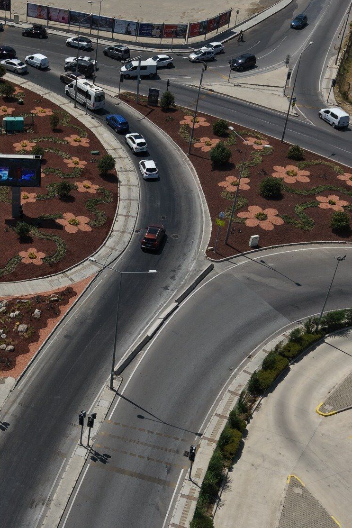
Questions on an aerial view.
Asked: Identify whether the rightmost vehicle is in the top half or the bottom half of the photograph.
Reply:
top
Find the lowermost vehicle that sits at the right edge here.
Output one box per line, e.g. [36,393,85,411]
[316,109,352,130]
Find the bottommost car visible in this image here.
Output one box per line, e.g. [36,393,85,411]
[137,227,167,256]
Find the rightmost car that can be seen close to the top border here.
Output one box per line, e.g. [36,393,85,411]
[290,14,307,30]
